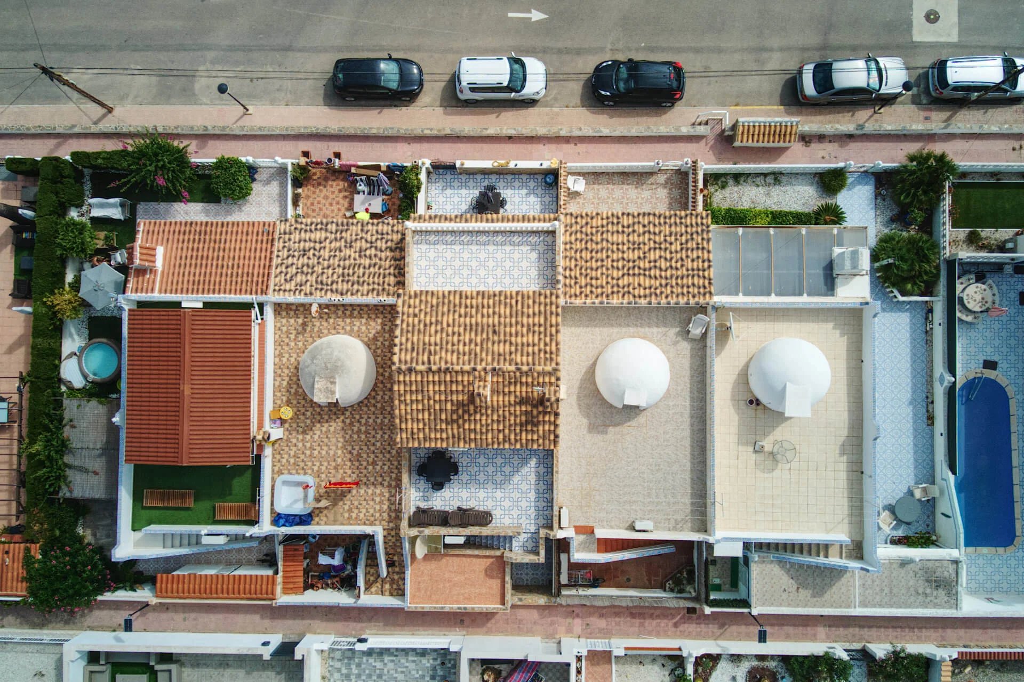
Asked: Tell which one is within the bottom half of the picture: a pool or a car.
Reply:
pool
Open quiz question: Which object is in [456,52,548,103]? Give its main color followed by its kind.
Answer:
white car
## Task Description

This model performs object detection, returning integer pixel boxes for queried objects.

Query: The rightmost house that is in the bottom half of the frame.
[710,302,963,616]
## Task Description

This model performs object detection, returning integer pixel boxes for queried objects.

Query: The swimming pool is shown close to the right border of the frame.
[948,376,1016,554]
